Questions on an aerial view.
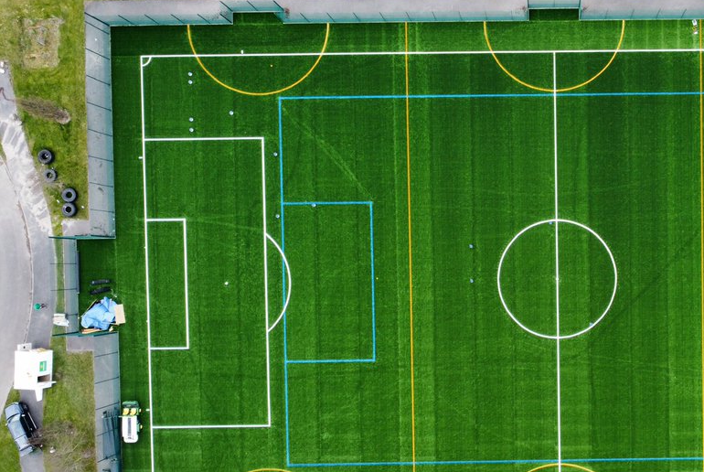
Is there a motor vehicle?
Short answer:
Yes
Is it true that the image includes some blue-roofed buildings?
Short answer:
No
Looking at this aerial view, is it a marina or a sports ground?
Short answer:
sports ground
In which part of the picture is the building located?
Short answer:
bottom left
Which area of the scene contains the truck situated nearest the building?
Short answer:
bottom left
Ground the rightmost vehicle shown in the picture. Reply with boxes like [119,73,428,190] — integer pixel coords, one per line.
[120,402,145,446]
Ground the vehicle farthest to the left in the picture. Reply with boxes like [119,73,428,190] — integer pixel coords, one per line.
[0,398,41,456]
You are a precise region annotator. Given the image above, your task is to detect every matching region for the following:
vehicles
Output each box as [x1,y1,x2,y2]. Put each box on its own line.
[0,398,41,456]
[120,402,145,446]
